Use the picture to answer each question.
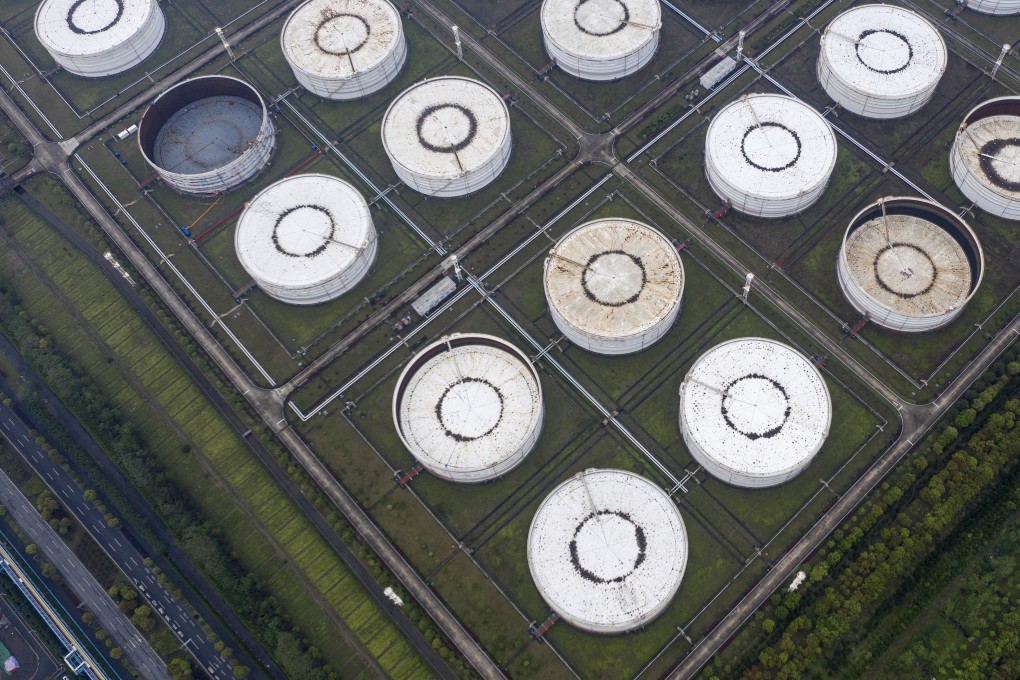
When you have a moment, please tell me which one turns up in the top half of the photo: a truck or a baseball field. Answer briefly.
truck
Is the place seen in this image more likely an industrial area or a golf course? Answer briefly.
industrial area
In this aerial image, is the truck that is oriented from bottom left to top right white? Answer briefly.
No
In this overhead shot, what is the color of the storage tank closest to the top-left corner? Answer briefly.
white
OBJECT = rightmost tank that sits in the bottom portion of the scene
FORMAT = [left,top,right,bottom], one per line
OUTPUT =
[675,336,833,492]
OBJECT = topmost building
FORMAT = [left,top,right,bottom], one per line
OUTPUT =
[699,56,736,89]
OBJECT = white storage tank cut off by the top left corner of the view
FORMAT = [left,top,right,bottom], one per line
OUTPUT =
[33,0,168,78]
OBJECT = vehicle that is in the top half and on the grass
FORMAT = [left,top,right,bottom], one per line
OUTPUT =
[181,194,224,235]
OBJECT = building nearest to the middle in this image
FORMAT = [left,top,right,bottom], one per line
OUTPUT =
[411,276,456,316]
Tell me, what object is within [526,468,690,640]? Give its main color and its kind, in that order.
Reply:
white storage tank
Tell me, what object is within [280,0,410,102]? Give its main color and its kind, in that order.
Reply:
white storage tank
